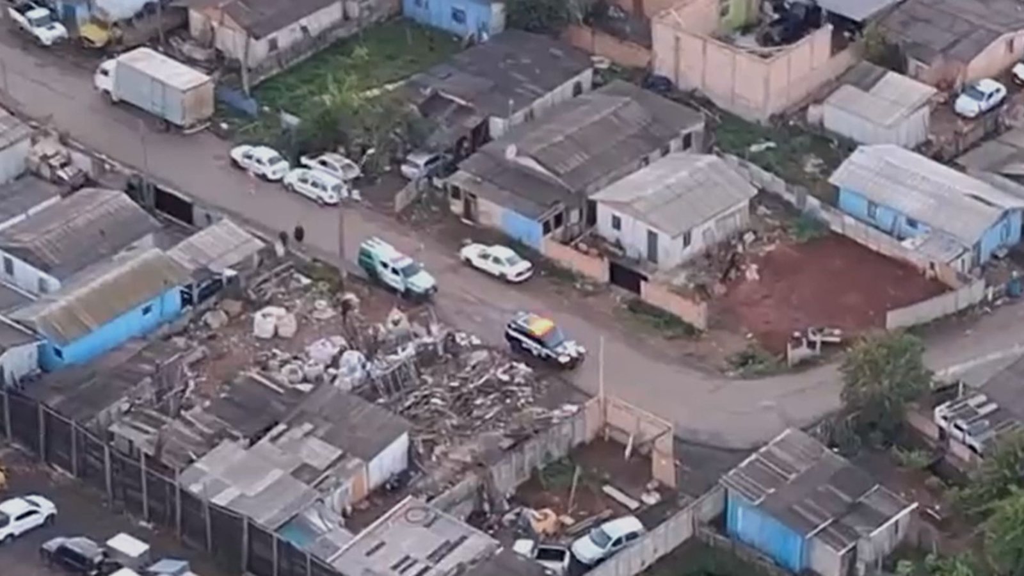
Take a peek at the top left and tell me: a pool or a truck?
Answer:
truck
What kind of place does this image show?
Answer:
residential area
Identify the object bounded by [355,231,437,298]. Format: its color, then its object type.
white truck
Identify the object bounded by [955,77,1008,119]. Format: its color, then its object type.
white car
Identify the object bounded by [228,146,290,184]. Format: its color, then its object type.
white car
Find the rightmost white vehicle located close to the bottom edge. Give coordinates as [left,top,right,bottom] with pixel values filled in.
[569,510,649,565]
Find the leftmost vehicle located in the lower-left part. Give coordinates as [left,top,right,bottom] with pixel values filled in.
[0,491,63,550]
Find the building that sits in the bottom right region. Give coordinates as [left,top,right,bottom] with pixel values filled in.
[723,435,920,576]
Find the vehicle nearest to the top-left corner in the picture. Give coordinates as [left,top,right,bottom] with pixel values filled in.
[3,7,69,49]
